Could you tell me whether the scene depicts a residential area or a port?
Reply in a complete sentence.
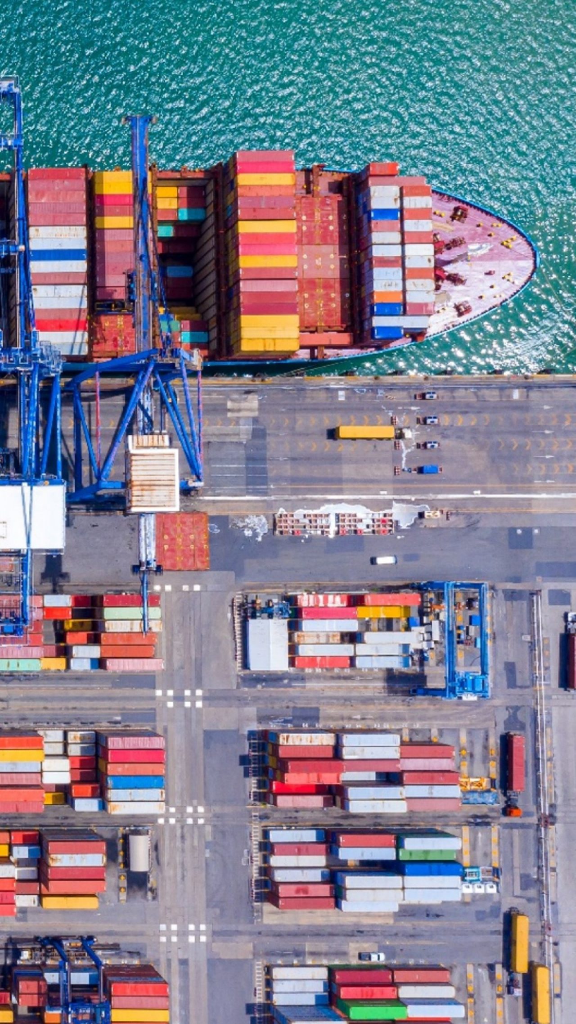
This image shows a port.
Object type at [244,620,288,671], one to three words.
shed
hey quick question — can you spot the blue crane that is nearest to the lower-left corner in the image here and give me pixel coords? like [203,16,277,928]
[44,931,108,1024]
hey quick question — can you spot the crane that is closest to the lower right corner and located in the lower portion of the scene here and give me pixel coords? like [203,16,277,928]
[401,579,491,706]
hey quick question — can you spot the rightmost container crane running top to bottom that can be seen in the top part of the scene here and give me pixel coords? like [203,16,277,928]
[56,119,205,632]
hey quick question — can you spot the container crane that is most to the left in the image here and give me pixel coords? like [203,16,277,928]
[0,73,64,638]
